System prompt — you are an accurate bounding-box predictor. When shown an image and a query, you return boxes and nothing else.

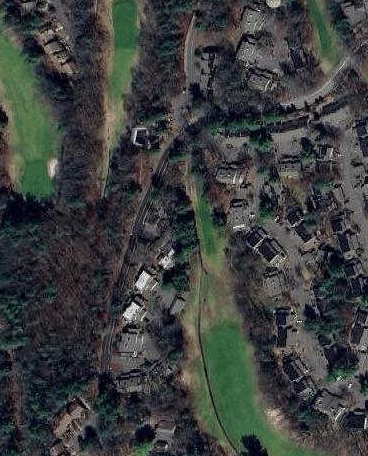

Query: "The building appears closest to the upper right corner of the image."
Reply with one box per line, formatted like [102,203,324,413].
[342,0,368,25]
